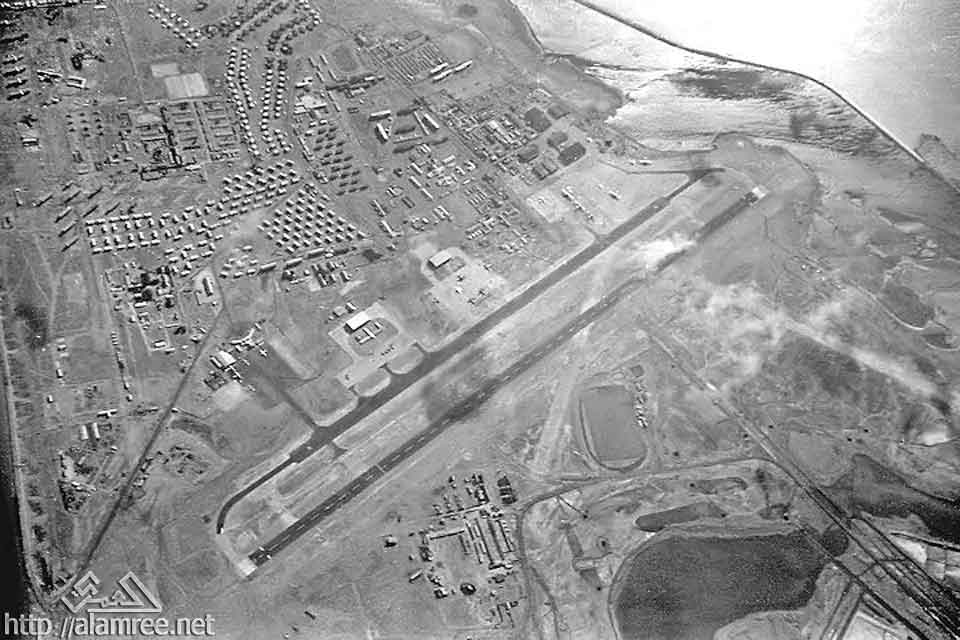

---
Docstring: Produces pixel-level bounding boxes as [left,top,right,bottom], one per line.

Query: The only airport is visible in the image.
[216,160,768,575]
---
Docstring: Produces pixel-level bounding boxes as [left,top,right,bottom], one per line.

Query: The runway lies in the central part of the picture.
[248,197,757,565]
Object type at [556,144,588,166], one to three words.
hangar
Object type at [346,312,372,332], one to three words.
hangar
